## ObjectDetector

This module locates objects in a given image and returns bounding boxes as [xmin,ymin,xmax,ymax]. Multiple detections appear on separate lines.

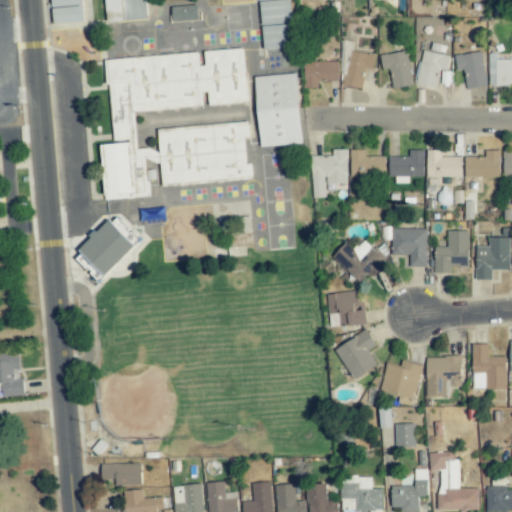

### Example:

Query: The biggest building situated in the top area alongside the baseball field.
[100,48,248,200]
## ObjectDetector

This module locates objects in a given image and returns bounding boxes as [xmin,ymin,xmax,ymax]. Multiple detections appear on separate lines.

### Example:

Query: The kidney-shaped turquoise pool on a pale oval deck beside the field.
[332,384,364,404]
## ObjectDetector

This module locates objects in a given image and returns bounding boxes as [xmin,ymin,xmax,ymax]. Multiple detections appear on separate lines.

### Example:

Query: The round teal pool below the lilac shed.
[430,221,448,237]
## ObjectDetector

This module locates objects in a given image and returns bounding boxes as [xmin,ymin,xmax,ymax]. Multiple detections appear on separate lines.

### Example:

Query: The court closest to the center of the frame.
[268,200,296,250]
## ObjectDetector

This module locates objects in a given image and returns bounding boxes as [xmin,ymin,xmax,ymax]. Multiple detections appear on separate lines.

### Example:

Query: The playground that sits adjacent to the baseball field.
[163,204,213,262]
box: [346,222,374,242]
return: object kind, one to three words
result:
swimming pool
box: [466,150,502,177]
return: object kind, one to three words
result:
house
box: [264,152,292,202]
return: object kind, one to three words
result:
basketball court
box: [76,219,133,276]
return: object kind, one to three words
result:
building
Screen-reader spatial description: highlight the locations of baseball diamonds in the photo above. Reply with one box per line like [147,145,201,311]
[97,240,332,457]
